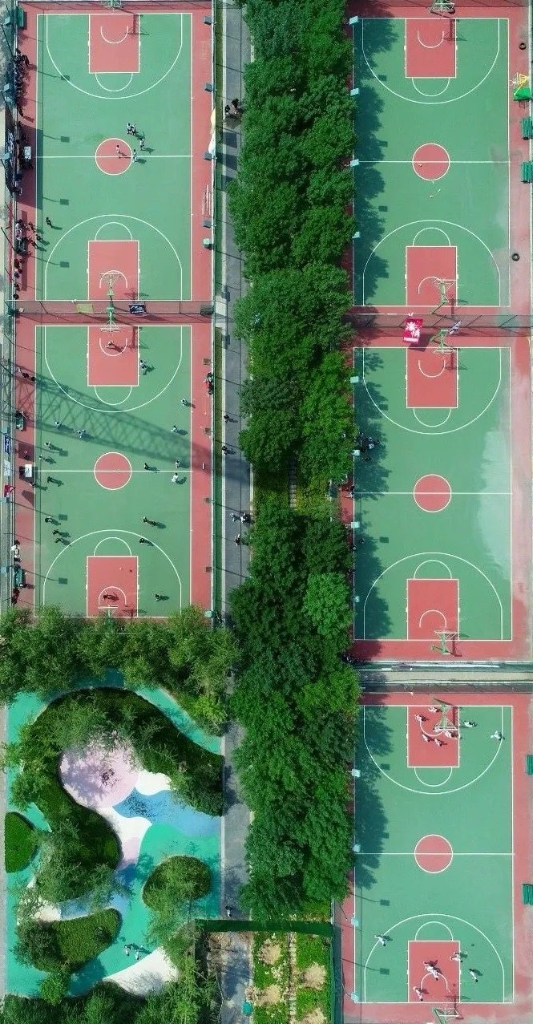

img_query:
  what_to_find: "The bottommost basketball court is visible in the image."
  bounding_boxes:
[335,685,533,1024]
